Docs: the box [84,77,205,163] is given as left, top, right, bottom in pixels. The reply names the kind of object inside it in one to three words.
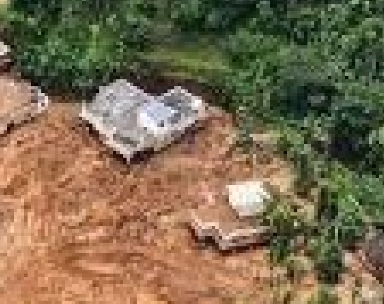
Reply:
house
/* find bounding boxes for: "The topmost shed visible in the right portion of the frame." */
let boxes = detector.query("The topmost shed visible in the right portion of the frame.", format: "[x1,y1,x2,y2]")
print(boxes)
[225,181,276,219]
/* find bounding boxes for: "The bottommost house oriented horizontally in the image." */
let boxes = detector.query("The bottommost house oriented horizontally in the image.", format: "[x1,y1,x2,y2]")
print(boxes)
[189,201,271,248]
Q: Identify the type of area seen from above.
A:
residential area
